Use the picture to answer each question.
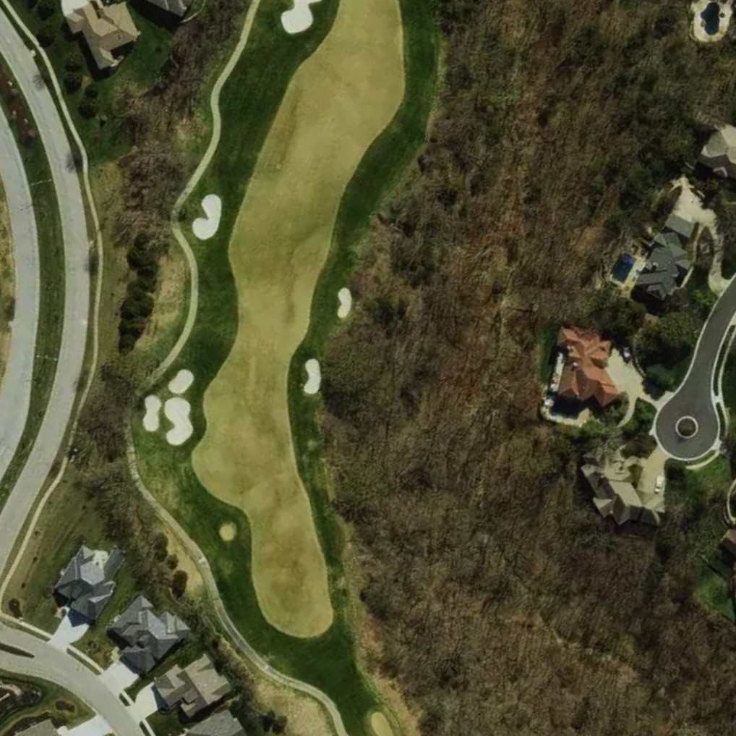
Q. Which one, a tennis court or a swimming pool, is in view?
swimming pool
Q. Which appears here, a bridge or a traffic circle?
traffic circle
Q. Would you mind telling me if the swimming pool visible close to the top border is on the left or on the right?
right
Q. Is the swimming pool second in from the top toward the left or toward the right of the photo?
right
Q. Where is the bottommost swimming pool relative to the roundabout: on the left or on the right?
to the left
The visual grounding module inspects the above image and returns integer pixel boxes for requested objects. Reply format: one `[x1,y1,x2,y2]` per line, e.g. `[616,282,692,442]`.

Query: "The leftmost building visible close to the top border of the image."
[62,0,138,70]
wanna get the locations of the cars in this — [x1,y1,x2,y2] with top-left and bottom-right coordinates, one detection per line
[655,477,663,493]
[621,346,630,360]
